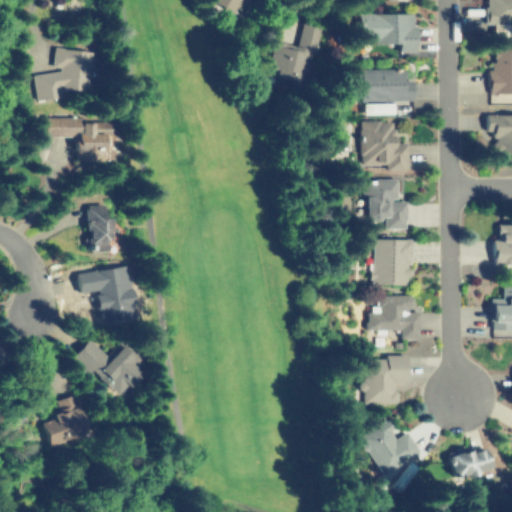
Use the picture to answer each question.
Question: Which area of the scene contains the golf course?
center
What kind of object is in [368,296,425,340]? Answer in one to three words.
house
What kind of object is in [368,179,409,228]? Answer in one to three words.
house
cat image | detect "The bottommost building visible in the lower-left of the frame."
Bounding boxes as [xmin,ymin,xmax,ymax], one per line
[43,396,90,448]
